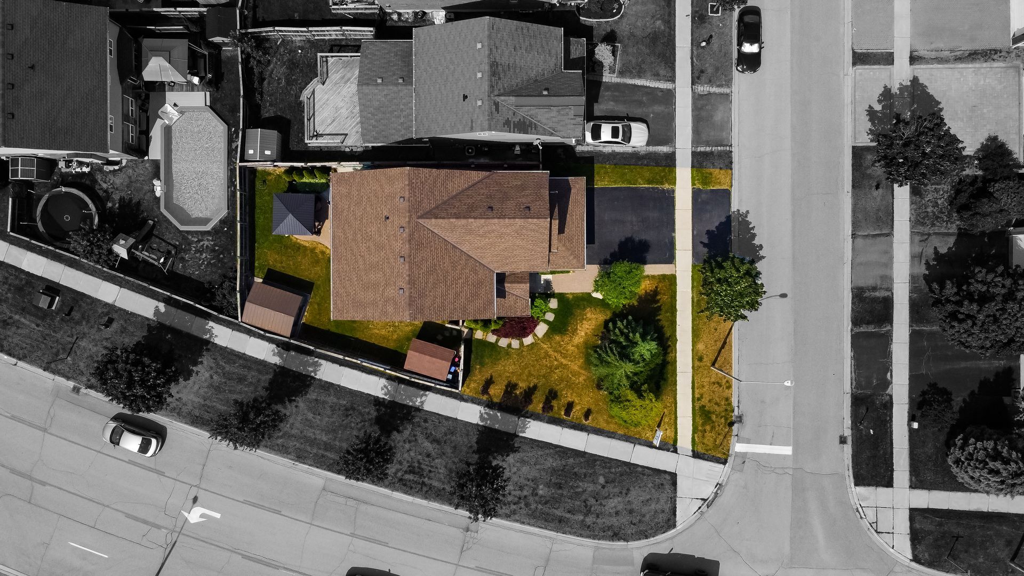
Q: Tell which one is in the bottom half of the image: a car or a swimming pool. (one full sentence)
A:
It is a car that can be seen in the bottom half of the image.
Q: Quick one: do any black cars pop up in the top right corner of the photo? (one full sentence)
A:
Yes, a black car is visible in the top right corner of the photo.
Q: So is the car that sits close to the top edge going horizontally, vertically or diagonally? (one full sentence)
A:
In this picture, the car that sits close to the top edge is oriented vertically.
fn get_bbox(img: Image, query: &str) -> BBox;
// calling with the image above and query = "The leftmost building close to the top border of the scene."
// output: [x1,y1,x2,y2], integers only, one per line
[0,0,155,168]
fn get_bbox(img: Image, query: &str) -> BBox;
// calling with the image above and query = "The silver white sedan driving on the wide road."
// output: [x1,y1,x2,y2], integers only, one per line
[103,422,165,459]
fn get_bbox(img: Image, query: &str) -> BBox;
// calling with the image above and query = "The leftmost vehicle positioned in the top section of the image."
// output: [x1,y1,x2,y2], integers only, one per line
[586,116,649,146]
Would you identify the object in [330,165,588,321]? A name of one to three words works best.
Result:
house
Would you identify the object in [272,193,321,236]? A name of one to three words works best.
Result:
gazebo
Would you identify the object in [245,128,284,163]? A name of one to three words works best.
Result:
shed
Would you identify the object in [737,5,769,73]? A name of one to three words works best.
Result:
car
